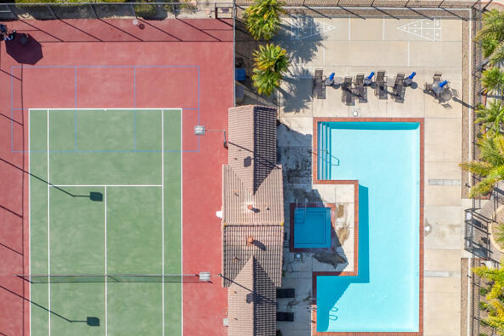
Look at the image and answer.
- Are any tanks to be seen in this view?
No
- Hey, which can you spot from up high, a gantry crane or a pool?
pool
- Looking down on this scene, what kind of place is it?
sports ground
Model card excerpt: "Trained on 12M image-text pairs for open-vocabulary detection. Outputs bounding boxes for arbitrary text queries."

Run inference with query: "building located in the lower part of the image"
[218,102,287,336]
